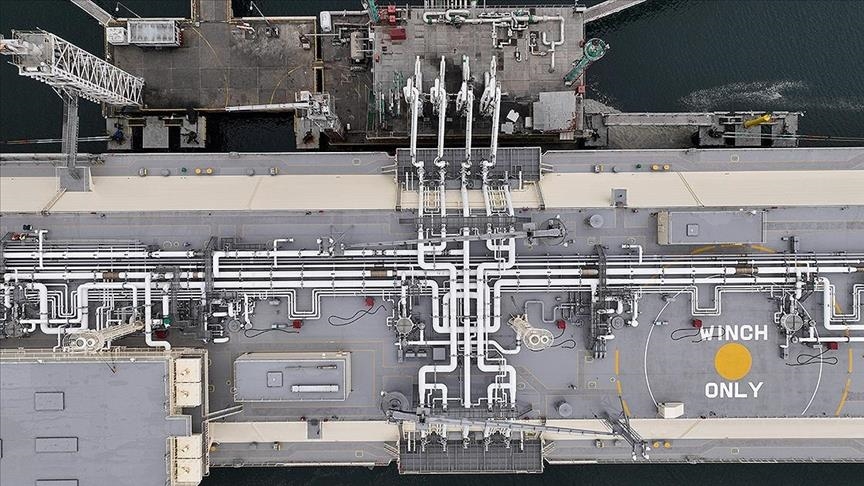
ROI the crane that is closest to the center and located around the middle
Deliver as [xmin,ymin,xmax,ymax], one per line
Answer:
[345,219,568,248]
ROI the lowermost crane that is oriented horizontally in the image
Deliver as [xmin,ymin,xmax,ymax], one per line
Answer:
[381,392,623,436]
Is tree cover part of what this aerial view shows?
No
